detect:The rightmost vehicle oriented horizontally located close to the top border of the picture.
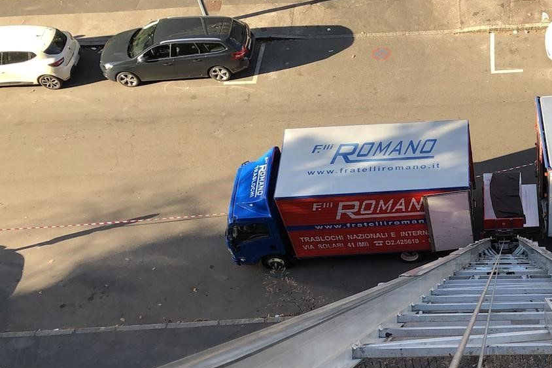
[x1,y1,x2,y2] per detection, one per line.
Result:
[97,12,256,87]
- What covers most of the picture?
paved ground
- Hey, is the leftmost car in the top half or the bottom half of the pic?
top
